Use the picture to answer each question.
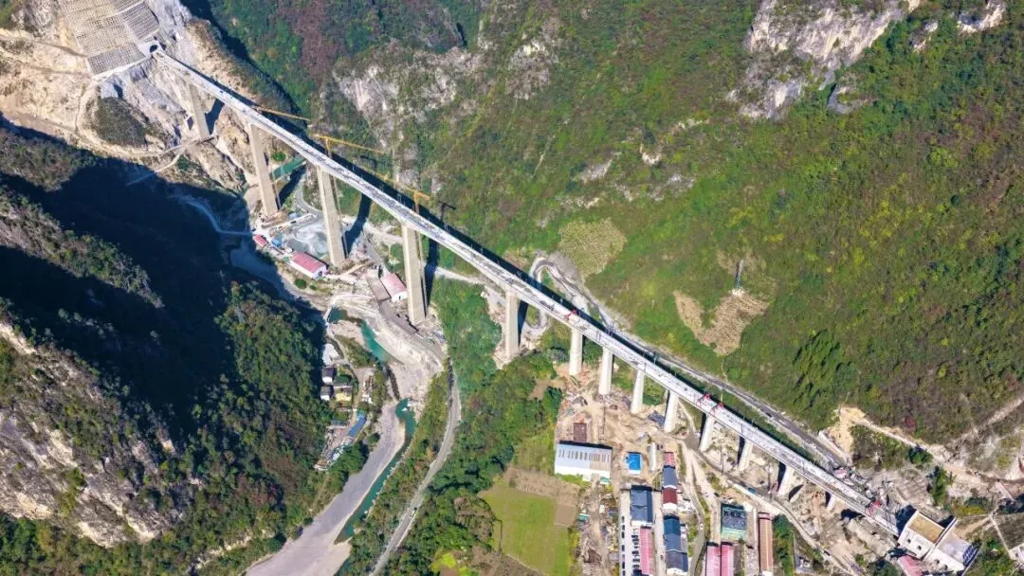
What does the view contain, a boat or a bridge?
bridge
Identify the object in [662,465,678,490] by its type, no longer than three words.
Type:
house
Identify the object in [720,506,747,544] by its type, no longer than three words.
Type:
building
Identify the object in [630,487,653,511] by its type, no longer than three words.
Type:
building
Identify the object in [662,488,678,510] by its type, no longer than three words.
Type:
house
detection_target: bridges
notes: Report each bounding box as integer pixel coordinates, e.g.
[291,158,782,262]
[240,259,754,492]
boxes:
[152,52,939,567]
